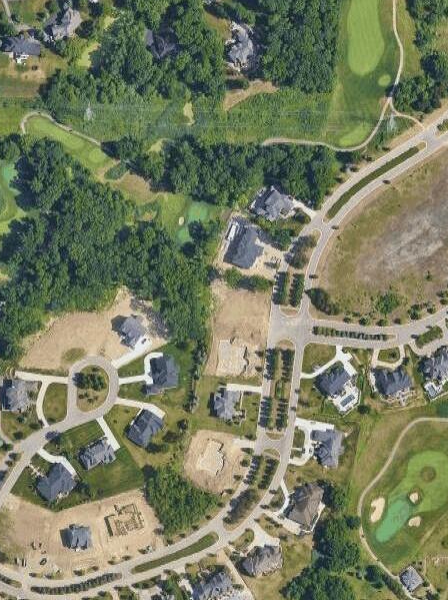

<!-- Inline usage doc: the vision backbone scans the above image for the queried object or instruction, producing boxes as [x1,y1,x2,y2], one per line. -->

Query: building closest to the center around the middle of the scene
[227,224,264,270]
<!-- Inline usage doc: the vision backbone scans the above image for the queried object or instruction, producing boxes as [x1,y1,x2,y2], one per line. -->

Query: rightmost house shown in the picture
[420,345,448,381]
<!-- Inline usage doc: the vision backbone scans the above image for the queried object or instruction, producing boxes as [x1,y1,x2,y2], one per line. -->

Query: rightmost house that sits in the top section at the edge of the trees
[257,185,297,221]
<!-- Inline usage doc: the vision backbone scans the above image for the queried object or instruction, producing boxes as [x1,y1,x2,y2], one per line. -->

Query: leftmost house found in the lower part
[0,380,30,411]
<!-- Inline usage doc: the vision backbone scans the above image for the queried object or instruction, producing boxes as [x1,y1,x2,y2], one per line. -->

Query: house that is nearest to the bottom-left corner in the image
[68,525,93,550]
